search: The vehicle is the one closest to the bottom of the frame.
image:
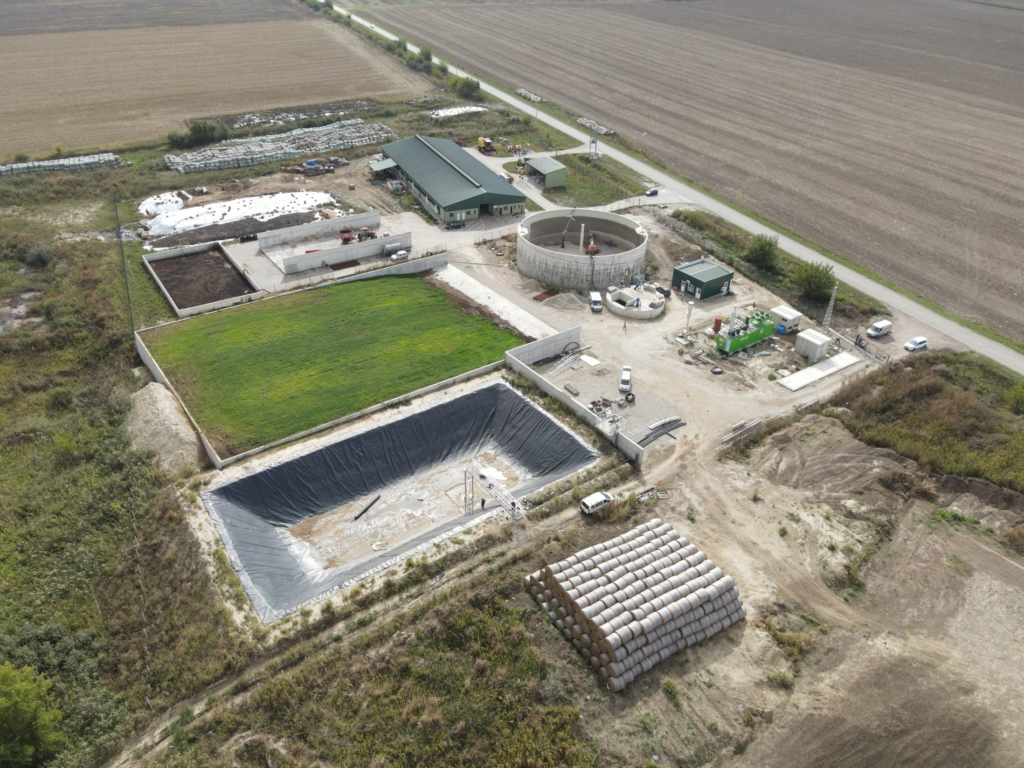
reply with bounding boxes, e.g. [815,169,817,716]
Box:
[579,485,620,515]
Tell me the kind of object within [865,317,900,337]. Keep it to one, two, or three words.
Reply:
vehicle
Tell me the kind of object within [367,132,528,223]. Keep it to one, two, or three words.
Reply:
barn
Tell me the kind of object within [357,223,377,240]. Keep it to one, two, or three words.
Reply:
work vehicle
